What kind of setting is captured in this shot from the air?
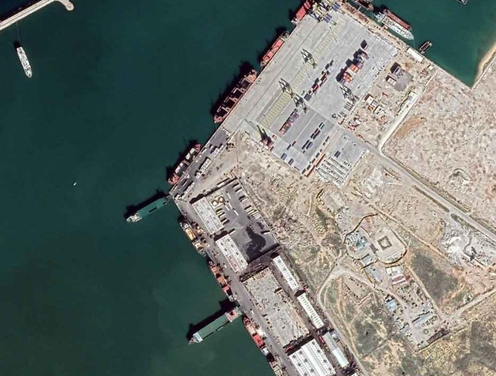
port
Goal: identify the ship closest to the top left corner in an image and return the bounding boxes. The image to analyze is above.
[18,45,32,77]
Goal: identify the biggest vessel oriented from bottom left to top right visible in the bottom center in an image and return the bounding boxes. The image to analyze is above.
[189,308,244,344]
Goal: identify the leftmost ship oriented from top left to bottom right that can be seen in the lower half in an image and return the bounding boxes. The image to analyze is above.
[179,219,204,254]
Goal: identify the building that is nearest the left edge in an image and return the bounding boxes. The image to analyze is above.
[192,195,223,233]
